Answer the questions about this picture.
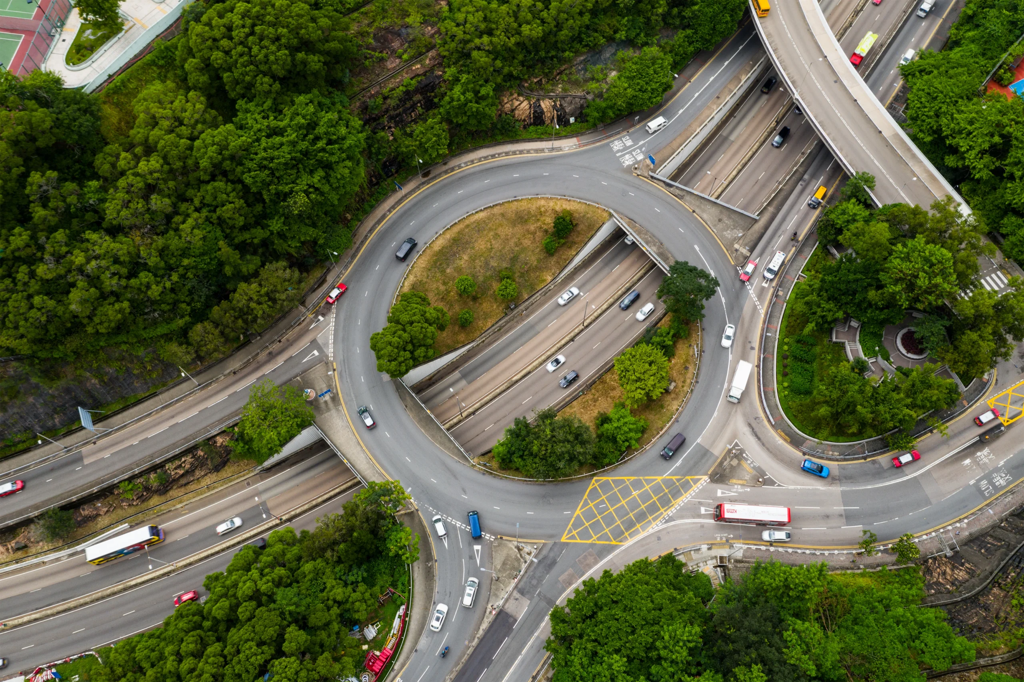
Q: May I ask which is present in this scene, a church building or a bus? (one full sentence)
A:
The one in the frame is a bus.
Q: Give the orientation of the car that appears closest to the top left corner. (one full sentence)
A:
The car that appears closest to the top left corner is laid out at an angle.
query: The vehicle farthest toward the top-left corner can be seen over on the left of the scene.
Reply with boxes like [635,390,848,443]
[325,283,350,306]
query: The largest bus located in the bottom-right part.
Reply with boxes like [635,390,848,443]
[711,503,792,527]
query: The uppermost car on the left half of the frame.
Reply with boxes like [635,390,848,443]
[395,238,417,263]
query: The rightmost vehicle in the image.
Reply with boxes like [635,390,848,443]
[972,408,1001,428]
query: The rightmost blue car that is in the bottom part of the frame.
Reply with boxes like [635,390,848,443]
[799,460,829,479]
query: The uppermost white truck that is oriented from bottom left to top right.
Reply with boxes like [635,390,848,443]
[914,0,936,22]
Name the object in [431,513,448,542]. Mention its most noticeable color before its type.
white car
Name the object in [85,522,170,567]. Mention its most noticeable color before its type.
white bus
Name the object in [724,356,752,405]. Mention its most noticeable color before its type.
white truck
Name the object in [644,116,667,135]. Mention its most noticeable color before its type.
white vehicle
